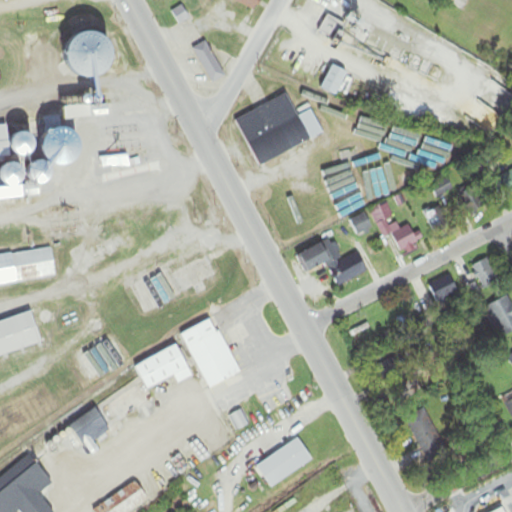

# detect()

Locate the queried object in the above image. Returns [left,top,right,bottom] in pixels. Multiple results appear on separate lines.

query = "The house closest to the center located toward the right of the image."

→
[293,237,343,270]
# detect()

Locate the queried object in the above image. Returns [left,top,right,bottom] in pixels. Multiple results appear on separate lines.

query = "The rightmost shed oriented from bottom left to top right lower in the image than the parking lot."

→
[254,436,314,488]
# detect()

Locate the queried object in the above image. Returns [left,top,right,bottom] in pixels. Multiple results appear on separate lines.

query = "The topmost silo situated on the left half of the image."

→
[68,30,117,79]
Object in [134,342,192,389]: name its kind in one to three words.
building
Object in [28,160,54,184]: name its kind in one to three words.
silo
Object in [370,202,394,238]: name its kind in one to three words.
house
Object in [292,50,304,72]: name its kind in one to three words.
vehicle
